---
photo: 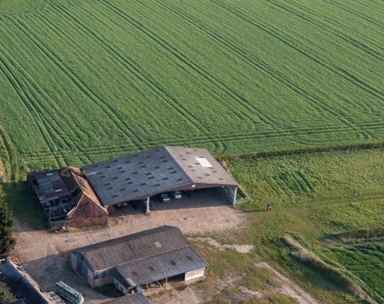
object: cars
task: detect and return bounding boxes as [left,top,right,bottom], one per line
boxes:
[173,191,184,200]
[161,195,170,205]
[130,203,140,212]
[186,190,197,198]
